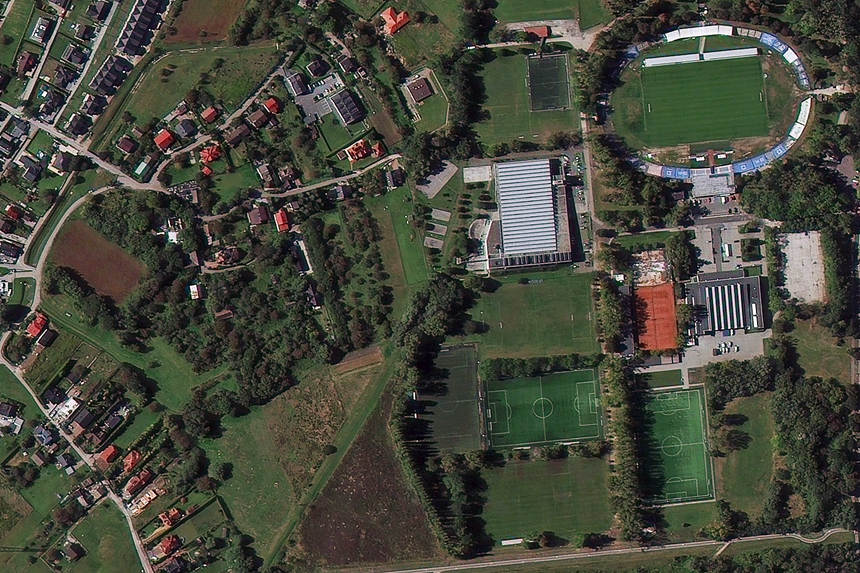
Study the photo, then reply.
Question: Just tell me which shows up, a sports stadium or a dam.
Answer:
sports stadium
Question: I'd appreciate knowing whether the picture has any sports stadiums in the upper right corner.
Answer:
Yes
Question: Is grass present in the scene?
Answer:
Yes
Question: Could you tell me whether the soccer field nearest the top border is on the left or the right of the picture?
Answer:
right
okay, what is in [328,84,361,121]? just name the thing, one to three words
building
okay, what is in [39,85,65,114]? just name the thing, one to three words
house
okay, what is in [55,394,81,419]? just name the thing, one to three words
building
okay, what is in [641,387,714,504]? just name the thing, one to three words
soccer field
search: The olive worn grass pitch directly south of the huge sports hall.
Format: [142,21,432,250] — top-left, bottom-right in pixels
[478,274,597,360]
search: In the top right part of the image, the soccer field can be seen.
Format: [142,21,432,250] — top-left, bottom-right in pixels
[641,55,771,149]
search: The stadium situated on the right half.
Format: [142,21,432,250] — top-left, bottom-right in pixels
[604,24,816,198]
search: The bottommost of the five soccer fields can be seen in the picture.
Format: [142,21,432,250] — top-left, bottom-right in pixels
[482,458,613,539]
